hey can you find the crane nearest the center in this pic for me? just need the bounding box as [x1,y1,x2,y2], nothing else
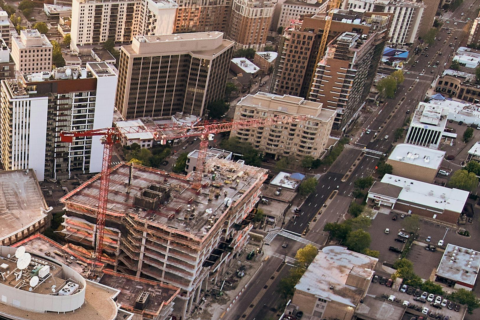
[155,115,309,188]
